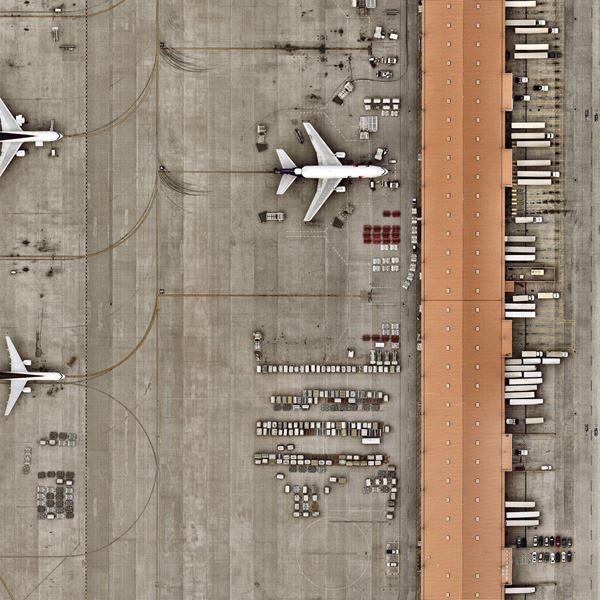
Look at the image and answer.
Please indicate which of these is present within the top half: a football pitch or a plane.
plane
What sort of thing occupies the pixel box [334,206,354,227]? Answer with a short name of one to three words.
work vehicle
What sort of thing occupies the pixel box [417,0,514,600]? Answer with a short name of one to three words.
building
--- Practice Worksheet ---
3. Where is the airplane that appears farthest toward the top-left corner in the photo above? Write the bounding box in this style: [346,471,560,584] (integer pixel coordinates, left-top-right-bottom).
[0,100,63,172]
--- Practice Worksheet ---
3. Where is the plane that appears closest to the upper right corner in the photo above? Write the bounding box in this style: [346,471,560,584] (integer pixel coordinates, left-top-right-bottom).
[274,122,388,221]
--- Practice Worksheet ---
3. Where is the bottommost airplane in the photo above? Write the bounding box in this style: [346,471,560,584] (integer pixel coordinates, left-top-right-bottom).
[0,336,65,416]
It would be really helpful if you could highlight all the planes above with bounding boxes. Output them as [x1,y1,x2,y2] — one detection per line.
[0,336,65,416]
[0,100,63,172]
[274,122,388,221]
